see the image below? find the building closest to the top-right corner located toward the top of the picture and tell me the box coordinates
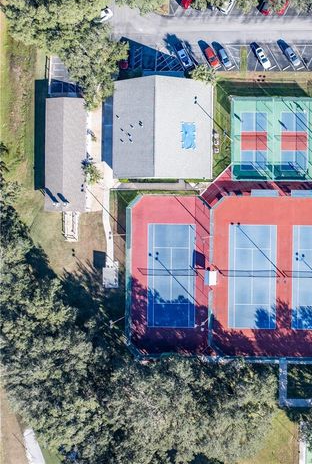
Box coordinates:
[111,76,214,179]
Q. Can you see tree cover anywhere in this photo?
Yes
